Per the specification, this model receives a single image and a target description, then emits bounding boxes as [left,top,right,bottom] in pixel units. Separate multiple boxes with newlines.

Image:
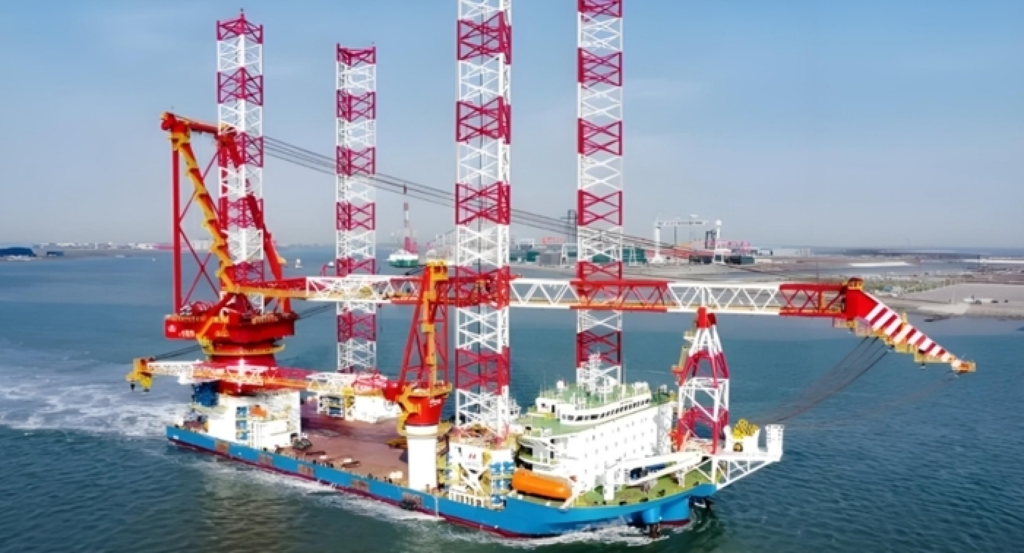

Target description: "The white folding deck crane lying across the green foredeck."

[600,446,706,503]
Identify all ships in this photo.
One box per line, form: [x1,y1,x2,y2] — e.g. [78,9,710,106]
[166,0,781,540]
[389,189,419,267]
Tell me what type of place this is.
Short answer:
port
